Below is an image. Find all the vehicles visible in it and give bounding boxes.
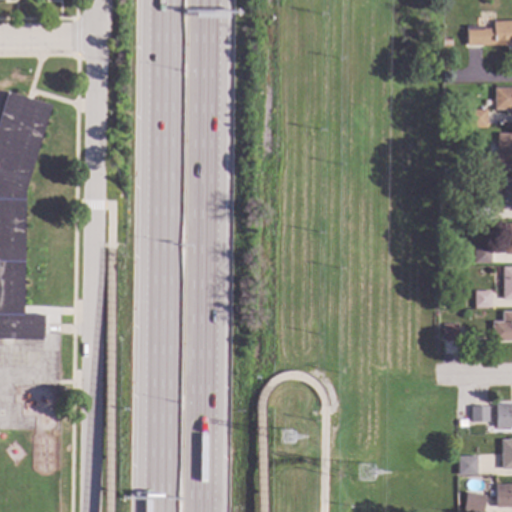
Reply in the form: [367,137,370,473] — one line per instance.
[196,162,202,177]
[84,343,90,356]
[212,117,219,131]
[151,53,156,62]
[200,416,208,483]
[160,120,166,131]
[211,393,217,408]
[146,500,155,512]
[212,310,218,322]
[160,0,168,10]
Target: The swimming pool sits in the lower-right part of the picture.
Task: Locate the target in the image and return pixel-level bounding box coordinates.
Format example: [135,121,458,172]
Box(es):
[467,476,486,490]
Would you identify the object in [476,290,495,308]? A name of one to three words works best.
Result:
building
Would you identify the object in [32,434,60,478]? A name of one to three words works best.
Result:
sports court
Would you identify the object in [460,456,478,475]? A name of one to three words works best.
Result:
building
